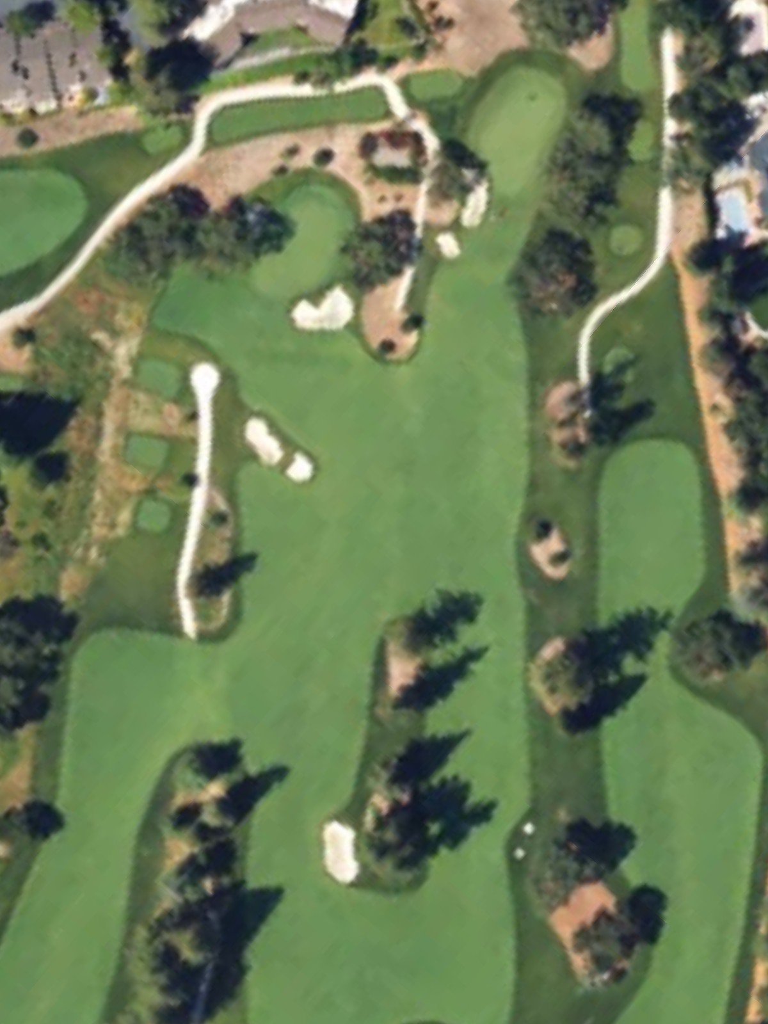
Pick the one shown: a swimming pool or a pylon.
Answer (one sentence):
There is a swimming pool in the scene.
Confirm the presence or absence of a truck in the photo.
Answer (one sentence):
No, this view has no truck in it.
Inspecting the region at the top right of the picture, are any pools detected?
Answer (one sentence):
Yes, a pool can be seen at the top right of the picture.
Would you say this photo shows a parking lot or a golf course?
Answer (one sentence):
It's a golf course.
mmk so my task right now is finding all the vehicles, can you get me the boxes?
[515,848,524,859]
[524,823,532,834]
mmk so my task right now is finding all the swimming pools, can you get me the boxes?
[727,190,753,234]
